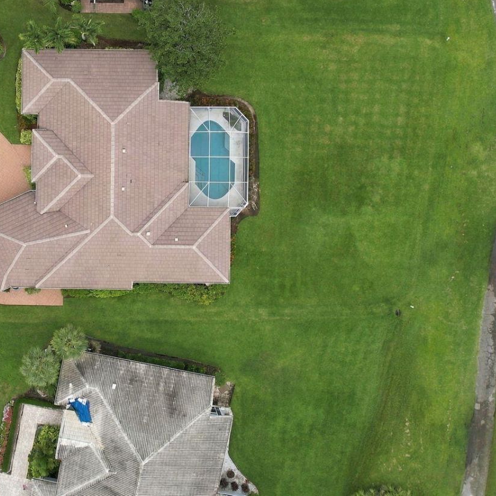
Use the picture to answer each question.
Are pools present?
Yes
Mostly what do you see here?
grass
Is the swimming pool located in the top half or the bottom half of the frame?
top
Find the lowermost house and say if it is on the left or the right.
left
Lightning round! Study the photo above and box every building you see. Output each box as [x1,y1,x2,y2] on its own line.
[27,350,233,496]
[0,48,231,293]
